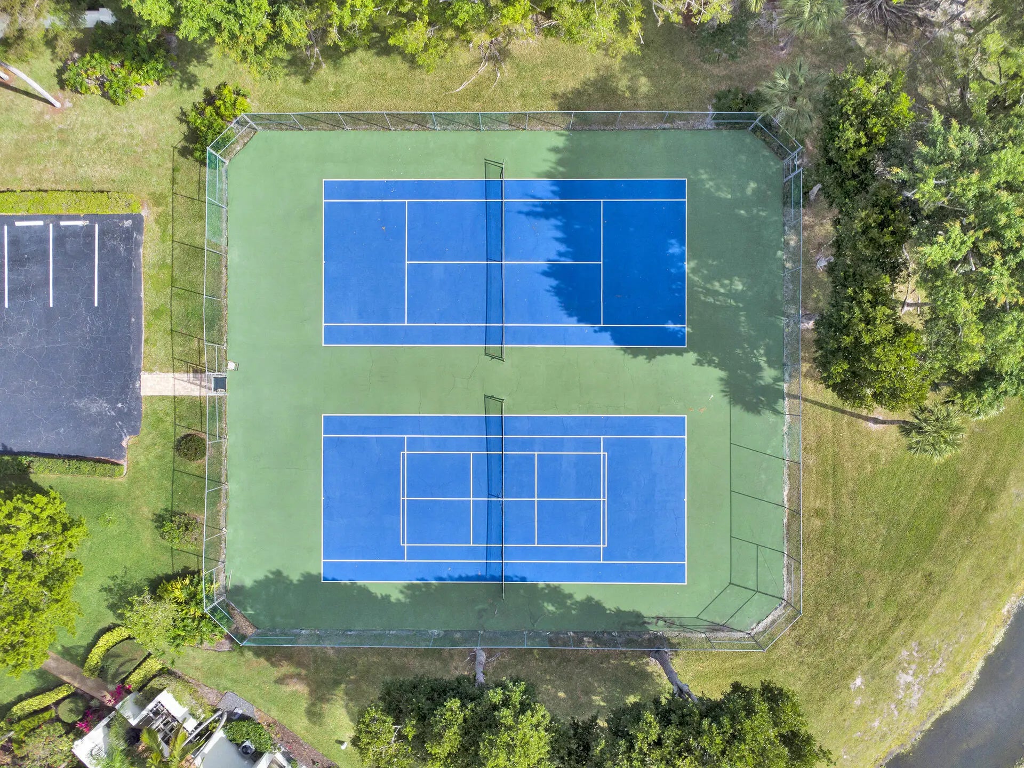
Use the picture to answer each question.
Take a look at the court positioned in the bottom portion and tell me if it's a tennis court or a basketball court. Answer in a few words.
tennis court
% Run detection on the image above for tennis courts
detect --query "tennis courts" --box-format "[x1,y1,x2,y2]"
[321,414,687,585]
[323,178,687,348]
